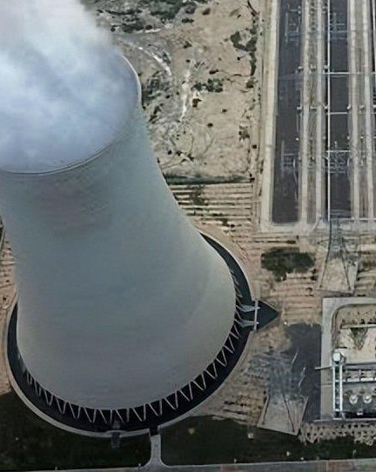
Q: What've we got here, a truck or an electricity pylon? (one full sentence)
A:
Visible in the photo is an electricity pylon.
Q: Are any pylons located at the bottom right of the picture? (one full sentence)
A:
Yes, looking at the bottom right of the picture, one can make out a pylon.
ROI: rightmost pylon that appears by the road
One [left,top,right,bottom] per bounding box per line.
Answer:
[318,214,356,291]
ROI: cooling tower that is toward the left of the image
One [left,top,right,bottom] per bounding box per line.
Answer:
[0,38,252,435]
